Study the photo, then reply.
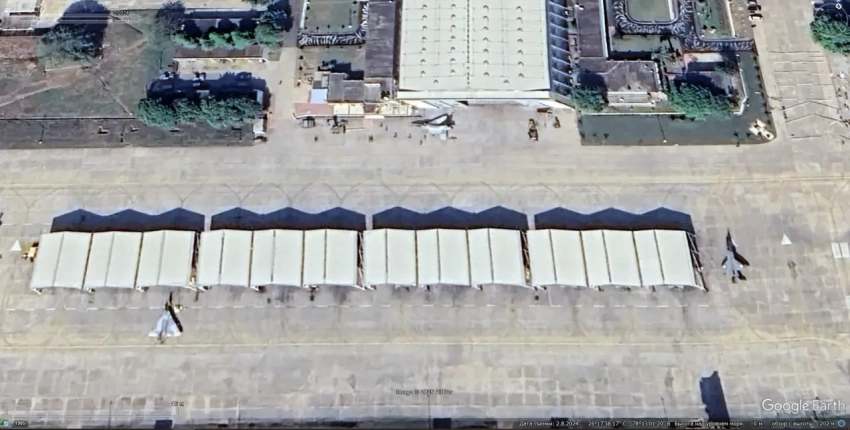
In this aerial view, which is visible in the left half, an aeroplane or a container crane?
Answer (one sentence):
Visible in the left half is an aeroplane.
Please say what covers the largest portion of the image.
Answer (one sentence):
What you mostly see from above here is paved ground.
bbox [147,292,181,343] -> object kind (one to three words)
airplane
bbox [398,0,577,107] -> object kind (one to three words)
hangar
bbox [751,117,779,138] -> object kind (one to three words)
airplane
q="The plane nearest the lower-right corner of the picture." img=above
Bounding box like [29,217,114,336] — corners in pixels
[720,232,750,283]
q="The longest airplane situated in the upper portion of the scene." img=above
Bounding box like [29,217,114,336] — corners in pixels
[408,110,457,136]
